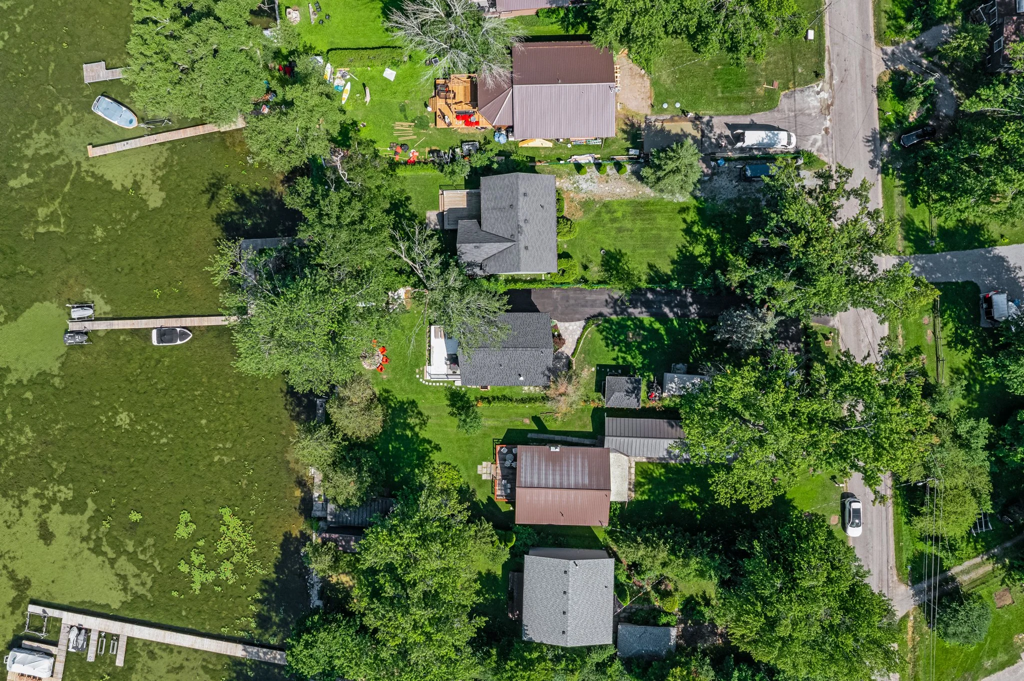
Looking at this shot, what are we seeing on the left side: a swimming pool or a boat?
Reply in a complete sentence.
The one visible on the left side is a boat.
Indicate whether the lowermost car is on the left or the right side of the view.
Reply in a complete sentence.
The lowermost car is on the right side of the image.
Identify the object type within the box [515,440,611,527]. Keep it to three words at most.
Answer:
house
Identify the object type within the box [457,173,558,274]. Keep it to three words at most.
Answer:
house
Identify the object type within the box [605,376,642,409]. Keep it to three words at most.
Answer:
shed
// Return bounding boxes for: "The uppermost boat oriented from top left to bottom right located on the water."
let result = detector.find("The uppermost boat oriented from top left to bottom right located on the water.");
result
[87,90,136,127]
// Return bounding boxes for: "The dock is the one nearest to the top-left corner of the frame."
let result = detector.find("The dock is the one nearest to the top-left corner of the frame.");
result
[83,61,146,83]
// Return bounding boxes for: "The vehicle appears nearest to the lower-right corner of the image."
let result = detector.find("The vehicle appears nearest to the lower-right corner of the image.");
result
[840,496,865,537]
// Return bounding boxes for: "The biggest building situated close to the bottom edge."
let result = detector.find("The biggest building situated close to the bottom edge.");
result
[521,549,615,647]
